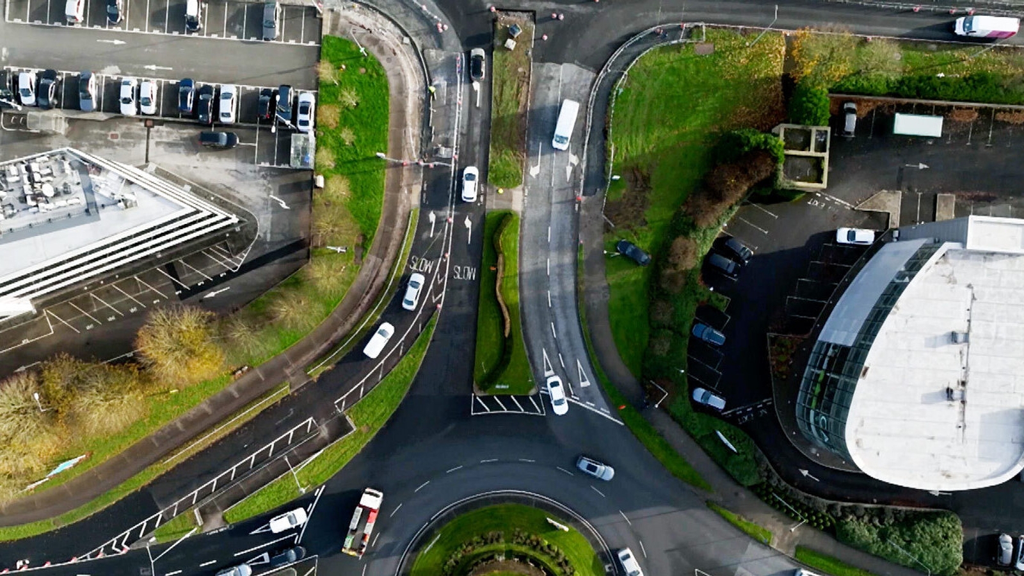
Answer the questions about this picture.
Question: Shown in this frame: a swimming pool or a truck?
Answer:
truck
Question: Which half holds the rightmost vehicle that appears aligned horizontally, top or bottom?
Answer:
top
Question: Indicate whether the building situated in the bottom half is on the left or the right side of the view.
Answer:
right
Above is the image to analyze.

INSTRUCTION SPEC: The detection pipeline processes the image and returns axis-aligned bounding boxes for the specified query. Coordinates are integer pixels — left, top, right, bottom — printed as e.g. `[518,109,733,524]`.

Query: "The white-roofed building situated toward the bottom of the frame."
[797,216,1024,491]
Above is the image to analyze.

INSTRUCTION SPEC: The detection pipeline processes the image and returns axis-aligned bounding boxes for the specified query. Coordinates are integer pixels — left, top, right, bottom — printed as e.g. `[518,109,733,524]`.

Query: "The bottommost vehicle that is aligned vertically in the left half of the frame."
[343,490,381,565]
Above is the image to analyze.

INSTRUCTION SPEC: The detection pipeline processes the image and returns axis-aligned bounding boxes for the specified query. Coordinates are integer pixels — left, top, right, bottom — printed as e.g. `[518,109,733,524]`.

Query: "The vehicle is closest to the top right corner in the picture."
[956,16,1022,40]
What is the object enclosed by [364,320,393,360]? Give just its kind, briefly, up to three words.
van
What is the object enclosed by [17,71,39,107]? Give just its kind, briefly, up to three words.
car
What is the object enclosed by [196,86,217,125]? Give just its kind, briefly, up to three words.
car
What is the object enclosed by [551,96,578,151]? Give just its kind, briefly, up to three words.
vehicle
